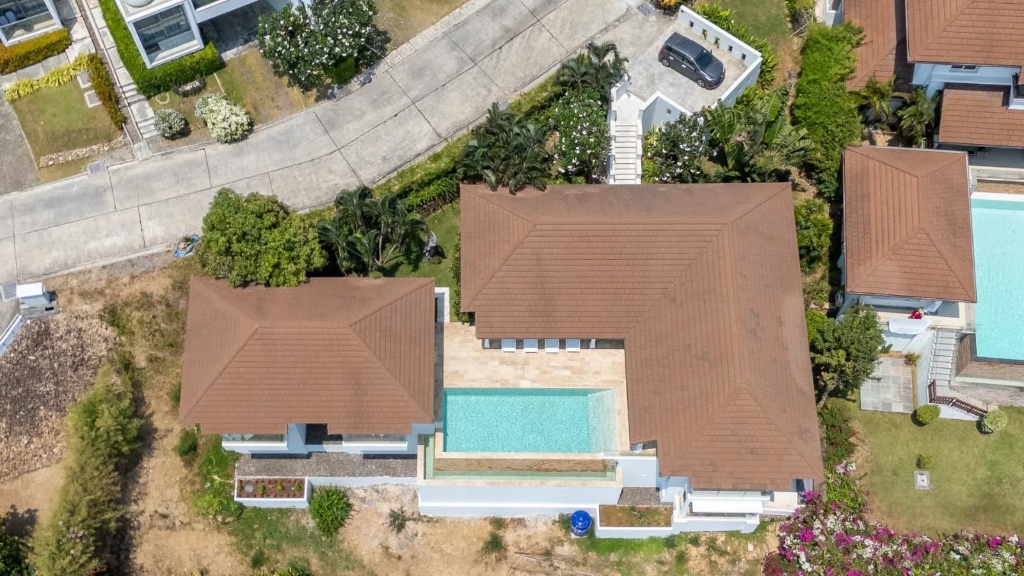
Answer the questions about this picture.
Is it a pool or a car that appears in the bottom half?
pool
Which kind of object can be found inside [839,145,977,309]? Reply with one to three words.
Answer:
building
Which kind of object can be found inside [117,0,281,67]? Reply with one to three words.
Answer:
house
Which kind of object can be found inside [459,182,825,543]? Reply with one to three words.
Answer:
house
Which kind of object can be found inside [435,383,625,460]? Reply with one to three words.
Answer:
swimming pool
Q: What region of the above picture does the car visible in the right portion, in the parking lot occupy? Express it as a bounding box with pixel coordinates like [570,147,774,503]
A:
[656,29,726,87]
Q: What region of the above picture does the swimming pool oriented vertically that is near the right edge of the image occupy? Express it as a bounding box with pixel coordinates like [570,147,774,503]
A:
[947,193,1024,415]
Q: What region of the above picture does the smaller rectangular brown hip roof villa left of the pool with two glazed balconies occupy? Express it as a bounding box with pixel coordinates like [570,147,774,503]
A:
[178,275,436,461]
